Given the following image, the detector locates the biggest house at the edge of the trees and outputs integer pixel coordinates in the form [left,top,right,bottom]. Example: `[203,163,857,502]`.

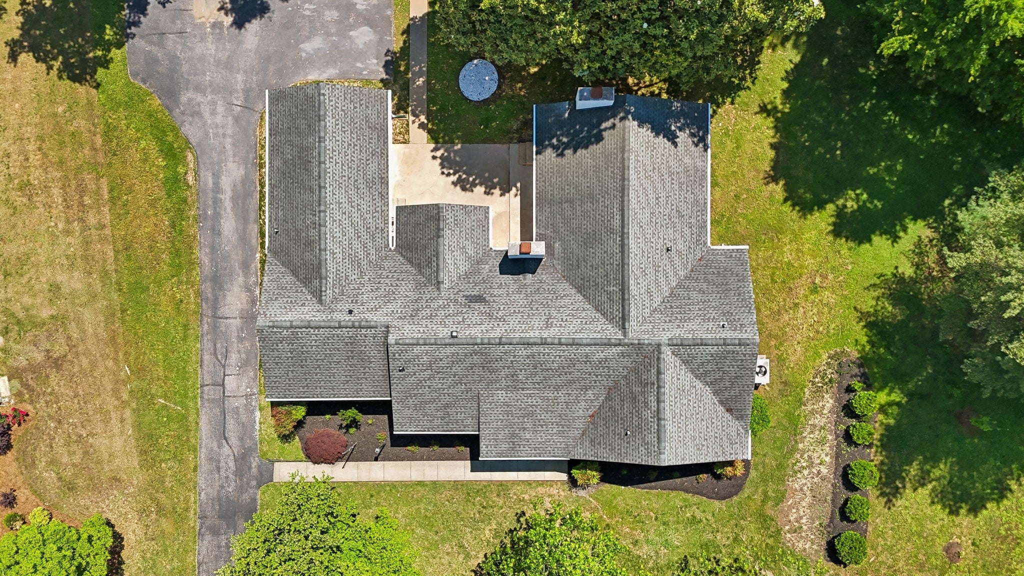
[255,83,763,467]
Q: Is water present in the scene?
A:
No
